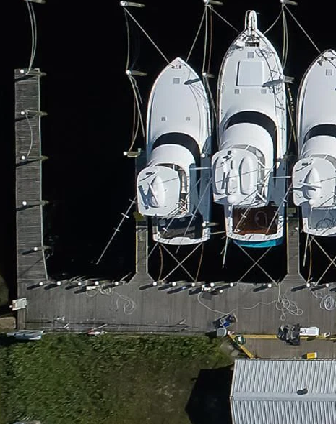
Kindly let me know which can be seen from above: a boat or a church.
boat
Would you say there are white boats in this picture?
Yes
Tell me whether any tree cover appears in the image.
No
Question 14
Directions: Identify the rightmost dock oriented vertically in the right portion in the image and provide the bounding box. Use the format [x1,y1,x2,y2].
[278,159,308,283]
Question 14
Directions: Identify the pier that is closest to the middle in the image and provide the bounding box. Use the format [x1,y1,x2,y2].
[125,159,157,285]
